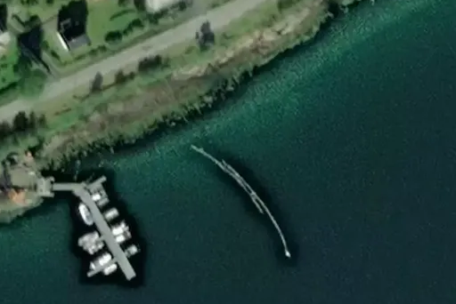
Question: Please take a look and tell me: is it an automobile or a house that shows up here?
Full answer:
Visible in the photo is a house.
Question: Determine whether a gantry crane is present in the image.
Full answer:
No, there's no gantry crane here.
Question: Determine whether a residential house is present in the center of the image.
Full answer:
No, I see no residential house in the center of the image.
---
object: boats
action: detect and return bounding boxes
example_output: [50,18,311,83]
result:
[90,243,103,252]
[104,263,118,274]
[125,247,138,255]
[105,209,119,220]
[92,253,113,268]
[80,204,94,226]
[115,233,129,244]
[79,229,98,243]
[92,194,101,202]
[112,224,127,236]
[82,237,98,249]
